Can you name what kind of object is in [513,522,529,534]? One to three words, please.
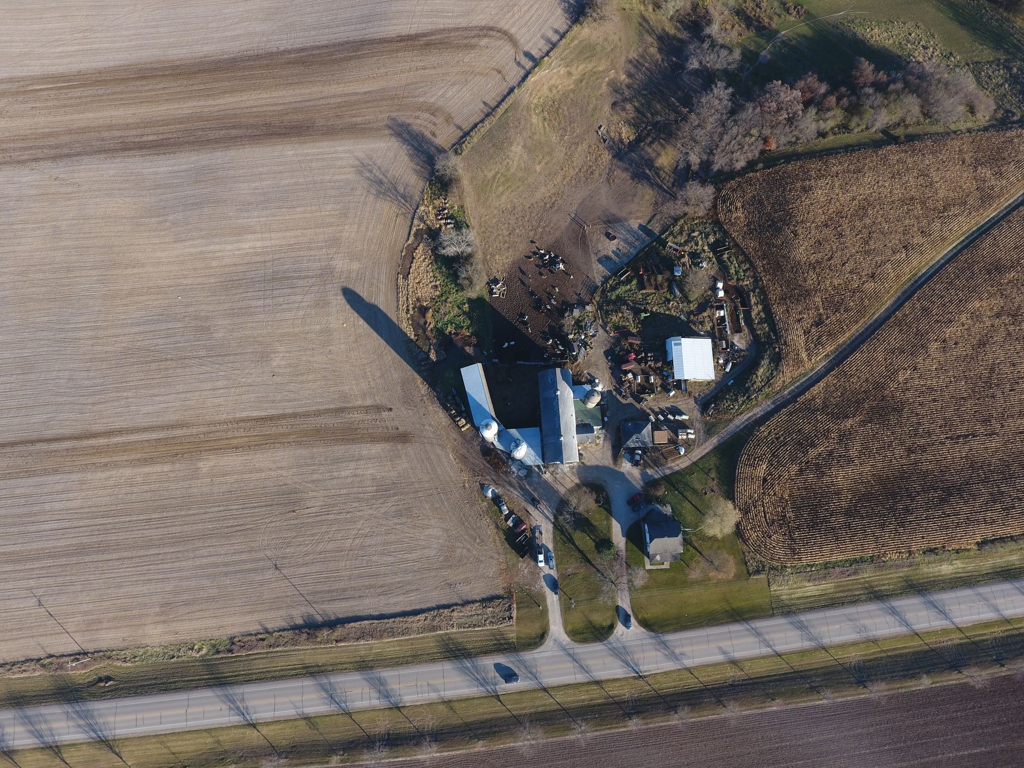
vehicle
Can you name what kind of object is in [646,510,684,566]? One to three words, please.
house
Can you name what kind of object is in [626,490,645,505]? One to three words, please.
vehicle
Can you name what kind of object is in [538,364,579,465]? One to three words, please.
barn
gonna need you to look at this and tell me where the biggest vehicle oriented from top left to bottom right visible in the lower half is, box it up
[496,496,511,516]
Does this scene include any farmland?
Yes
